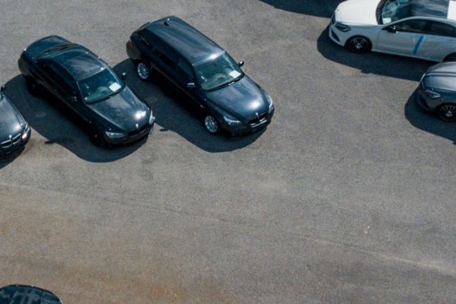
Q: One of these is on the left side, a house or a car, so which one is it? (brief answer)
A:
car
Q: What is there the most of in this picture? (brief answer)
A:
paved ground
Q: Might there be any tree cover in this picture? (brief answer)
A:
No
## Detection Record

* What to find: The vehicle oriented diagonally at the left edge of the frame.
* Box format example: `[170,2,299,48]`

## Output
[13,34,155,152]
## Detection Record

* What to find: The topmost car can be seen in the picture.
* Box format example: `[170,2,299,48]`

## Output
[326,0,456,63]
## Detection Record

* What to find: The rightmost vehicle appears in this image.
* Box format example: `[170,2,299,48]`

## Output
[413,63,456,122]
